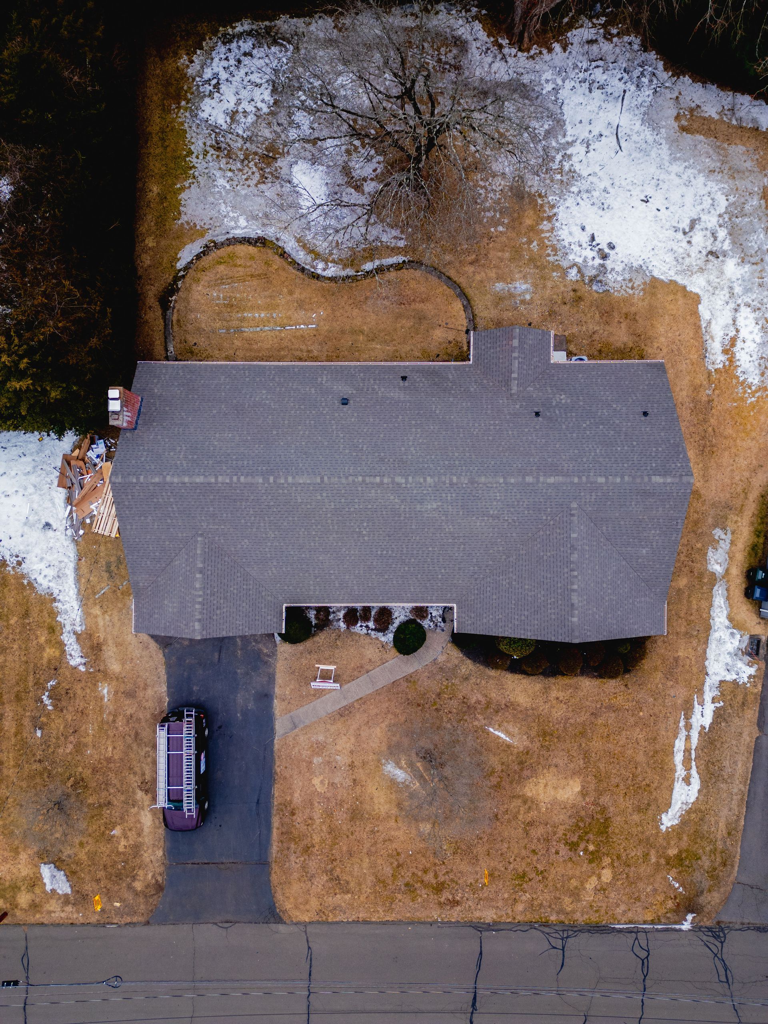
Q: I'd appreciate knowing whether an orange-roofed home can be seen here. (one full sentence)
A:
No, I can see no orange-roofed home in this picture.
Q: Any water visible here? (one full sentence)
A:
No, the scene doesn't show any water.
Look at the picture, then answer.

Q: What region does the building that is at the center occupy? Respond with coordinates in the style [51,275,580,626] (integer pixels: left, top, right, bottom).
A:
[107,325,695,643]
